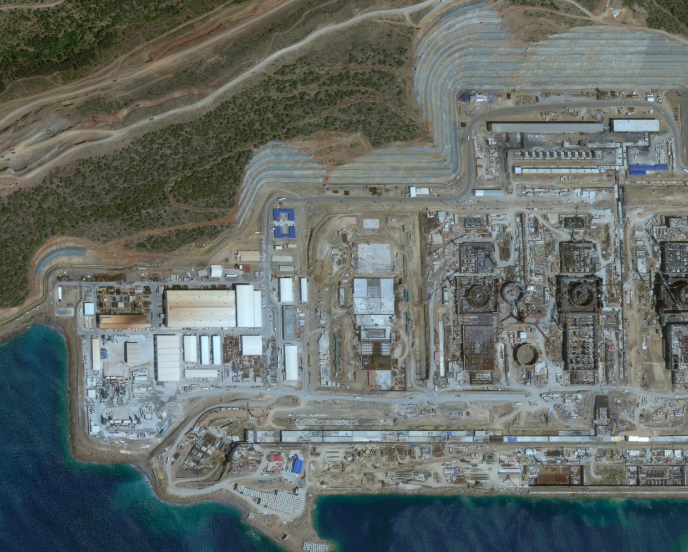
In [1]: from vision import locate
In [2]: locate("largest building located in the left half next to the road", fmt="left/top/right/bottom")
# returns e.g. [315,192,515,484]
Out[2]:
[164,290,236,327]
